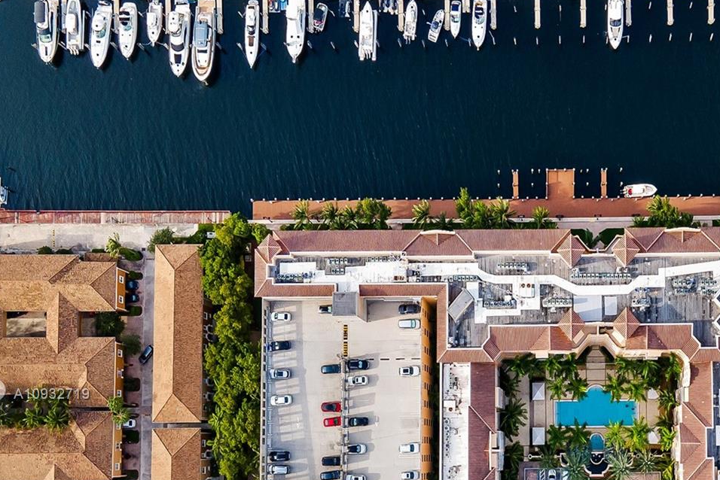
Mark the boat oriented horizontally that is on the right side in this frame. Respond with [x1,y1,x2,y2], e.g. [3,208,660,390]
[622,185,656,198]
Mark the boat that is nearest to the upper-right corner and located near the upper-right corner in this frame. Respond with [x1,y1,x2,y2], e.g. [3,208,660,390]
[607,0,624,51]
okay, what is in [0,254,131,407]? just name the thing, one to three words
house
